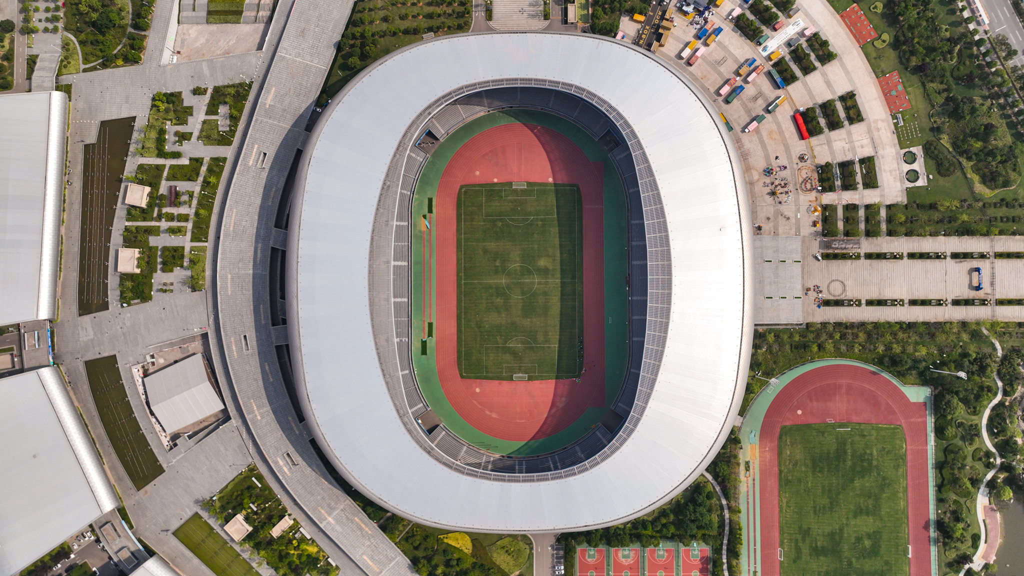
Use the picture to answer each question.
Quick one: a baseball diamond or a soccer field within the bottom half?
soccer field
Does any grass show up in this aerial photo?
Yes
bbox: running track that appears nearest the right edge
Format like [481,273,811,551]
[740,359,937,576]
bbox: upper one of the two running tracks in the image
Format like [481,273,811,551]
[412,108,628,457]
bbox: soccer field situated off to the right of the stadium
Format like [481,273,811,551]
[779,423,910,576]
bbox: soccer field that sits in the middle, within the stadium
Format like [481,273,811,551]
[457,183,584,381]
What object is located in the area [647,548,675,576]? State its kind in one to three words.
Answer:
basketball court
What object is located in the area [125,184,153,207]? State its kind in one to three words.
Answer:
building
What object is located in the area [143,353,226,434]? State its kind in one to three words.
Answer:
building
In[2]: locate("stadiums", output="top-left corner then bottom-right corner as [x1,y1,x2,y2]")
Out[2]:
[285,27,756,536]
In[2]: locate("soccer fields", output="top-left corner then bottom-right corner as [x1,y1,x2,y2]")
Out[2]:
[779,423,910,576]
[457,183,584,381]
